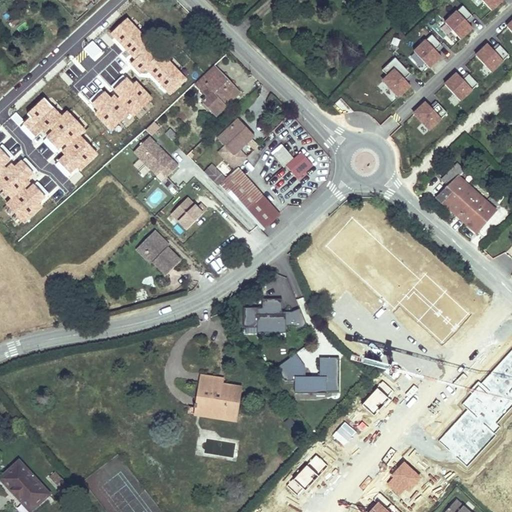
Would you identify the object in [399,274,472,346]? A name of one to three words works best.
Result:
sports court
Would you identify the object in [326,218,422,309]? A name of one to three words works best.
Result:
sports field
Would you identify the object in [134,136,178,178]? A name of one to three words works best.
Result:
house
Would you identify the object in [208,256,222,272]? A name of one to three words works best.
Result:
vehicle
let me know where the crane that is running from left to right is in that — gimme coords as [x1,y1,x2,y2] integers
[351,354,512,400]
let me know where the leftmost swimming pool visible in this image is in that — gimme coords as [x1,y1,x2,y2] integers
[145,186,168,210]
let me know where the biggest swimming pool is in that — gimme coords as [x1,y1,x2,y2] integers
[195,430,239,461]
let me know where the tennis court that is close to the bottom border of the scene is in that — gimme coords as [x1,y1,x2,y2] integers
[86,455,162,512]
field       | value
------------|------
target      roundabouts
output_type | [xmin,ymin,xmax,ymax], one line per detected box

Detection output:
[334,132,396,193]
